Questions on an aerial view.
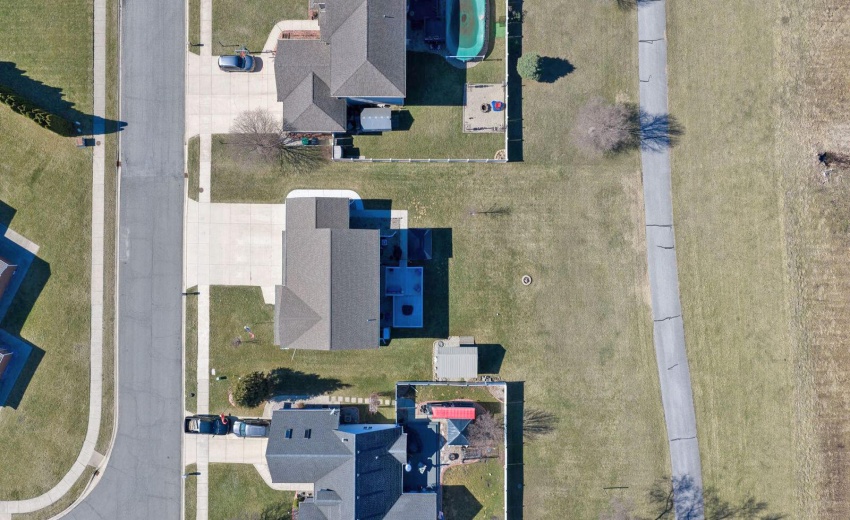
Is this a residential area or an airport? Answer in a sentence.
The picture captures a residential area.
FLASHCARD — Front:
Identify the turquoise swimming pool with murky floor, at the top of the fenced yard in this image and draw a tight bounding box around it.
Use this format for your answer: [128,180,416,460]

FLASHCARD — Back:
[448,0,489,63]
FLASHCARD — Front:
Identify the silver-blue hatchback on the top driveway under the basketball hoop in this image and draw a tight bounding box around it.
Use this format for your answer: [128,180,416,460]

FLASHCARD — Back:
[219,54,256,72]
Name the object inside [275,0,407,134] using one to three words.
house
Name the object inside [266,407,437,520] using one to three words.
house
